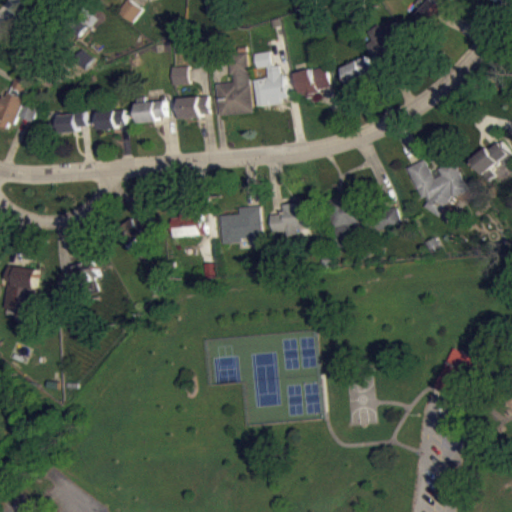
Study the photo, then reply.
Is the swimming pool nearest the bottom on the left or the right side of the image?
left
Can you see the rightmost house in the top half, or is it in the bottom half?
top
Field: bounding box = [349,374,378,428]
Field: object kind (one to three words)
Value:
basketball court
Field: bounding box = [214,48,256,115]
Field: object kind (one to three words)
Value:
house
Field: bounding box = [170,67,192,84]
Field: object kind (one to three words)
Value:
building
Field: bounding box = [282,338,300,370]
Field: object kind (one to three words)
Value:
sports court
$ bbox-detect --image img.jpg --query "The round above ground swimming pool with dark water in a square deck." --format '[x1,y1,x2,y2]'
[12,342,34,364]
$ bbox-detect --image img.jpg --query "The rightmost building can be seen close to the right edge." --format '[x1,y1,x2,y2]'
[466,140,510,178]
